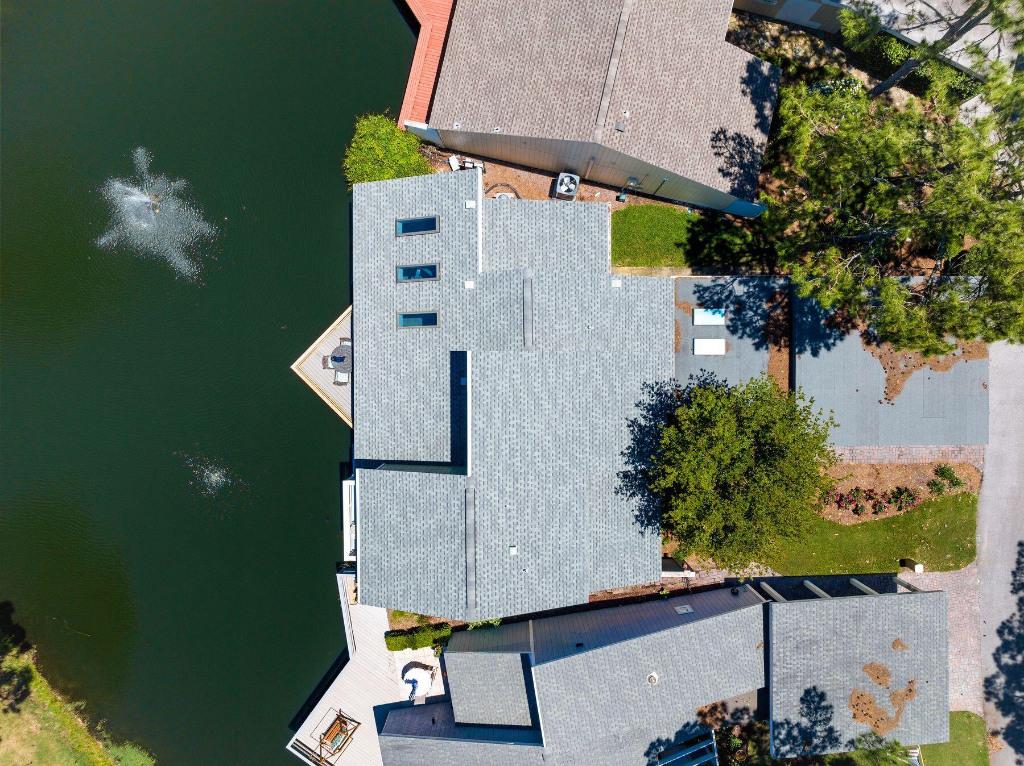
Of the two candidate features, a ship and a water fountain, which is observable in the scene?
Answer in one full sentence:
The one in the frame is a water fountain.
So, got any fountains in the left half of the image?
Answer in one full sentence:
Yes, a fountain appears in the left half of the image.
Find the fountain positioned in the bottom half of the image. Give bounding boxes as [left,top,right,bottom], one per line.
[181,456,240,501]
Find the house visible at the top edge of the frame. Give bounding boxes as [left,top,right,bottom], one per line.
[403,0,784,218]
